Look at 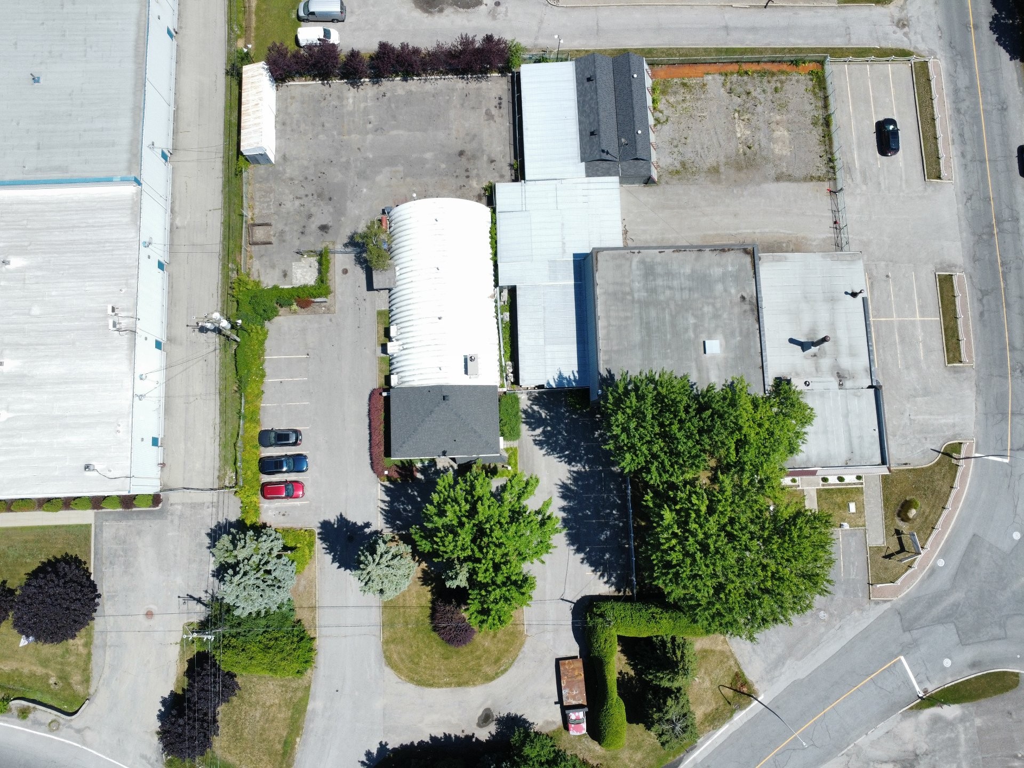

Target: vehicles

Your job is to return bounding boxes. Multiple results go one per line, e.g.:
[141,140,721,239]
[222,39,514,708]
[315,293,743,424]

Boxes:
[260,479,307,500]
[875,118,901,158]
[297,0,348,22]
[259,452,311,474]
[260,427,304,448]
[558,654,587,735]
[296,23,341,48]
